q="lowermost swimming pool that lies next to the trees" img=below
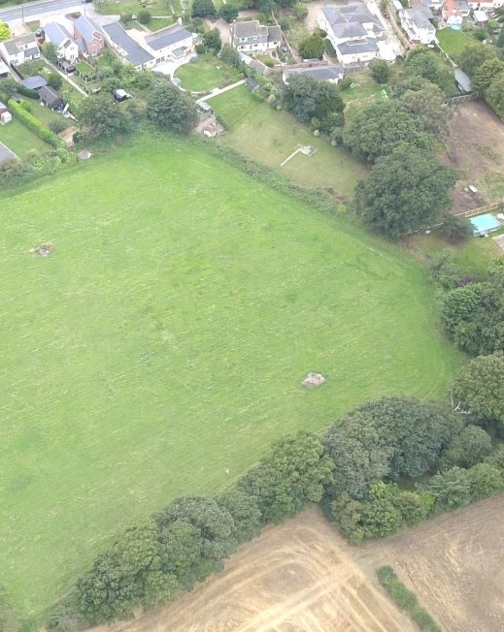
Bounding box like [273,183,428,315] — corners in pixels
[469,213,501,231]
